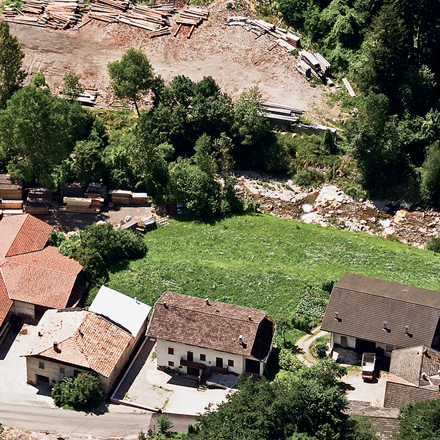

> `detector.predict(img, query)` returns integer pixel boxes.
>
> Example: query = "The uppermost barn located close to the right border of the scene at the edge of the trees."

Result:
[321,273,439,357]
